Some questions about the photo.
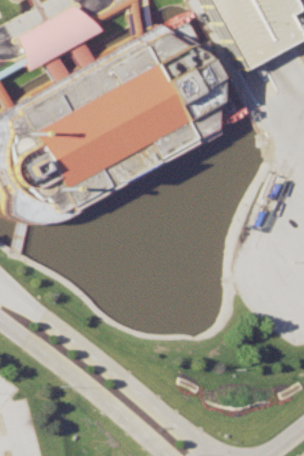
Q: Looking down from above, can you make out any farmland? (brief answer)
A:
No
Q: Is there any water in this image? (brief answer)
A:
Yes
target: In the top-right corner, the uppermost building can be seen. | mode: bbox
[212,0,304,72]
